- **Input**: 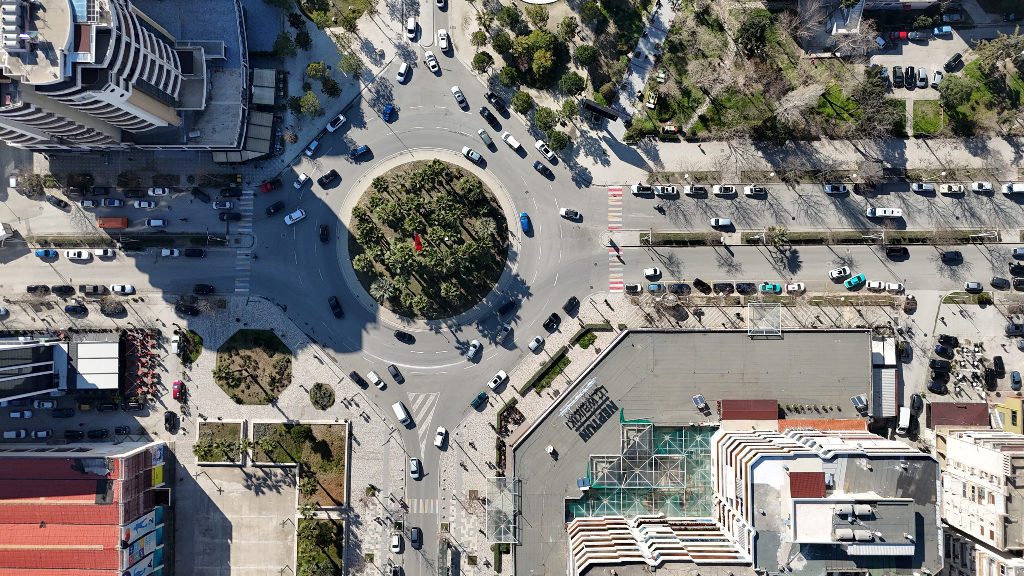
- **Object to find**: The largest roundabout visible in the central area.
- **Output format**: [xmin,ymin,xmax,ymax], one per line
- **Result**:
[292,103,565,377]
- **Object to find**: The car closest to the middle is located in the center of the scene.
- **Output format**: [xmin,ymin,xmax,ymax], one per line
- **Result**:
[497,299,518,316]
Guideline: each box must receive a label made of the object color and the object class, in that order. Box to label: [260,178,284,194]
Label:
black vehicle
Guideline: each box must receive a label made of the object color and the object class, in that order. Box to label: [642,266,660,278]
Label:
white vehicle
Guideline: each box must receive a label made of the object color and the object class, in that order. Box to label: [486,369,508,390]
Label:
white car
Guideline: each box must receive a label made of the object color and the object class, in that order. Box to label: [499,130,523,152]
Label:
white vehicle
